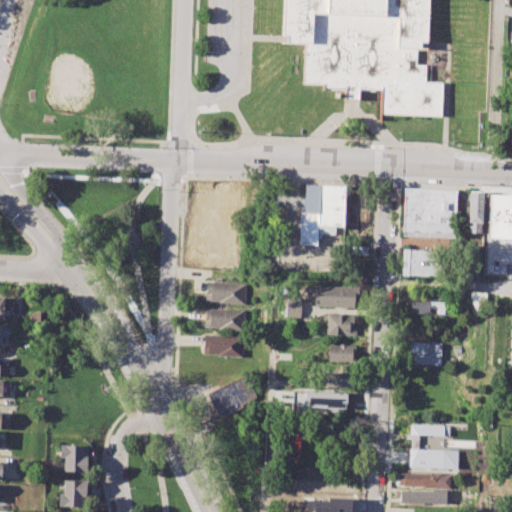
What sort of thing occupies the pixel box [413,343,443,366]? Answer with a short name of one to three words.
house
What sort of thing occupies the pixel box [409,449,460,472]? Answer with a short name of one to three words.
building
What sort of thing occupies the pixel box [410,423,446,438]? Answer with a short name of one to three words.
building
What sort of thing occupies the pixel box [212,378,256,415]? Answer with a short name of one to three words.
house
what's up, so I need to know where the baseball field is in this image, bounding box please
[46,52,112,118]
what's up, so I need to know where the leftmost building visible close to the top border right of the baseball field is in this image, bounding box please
[282,0,444,118]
